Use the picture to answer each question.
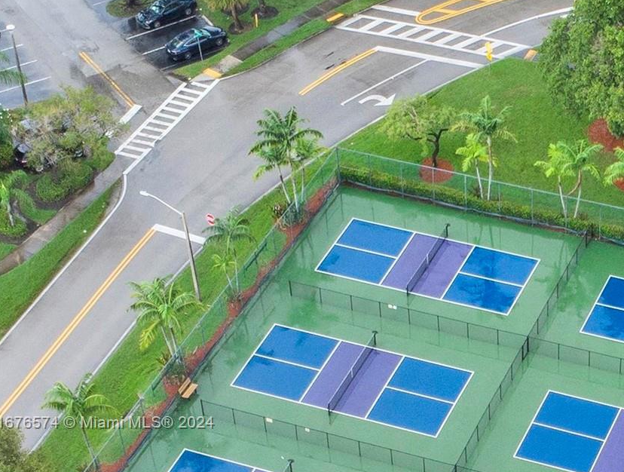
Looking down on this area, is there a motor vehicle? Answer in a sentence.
Yes, there is a motor vehicle in the image.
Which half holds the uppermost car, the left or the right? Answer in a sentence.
You can find the uppermost car on the left side of the picture.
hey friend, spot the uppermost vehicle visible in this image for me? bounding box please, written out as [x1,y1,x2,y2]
[137,0,200,34]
